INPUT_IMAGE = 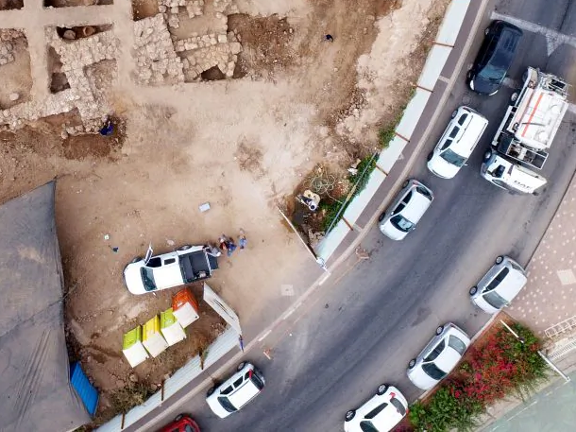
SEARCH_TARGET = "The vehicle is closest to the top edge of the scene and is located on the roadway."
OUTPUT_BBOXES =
[464,16,526,102]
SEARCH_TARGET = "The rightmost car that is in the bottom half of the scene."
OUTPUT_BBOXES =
[465,249,531,325]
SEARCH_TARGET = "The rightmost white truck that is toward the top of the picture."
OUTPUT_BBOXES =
[469,58,573,212]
